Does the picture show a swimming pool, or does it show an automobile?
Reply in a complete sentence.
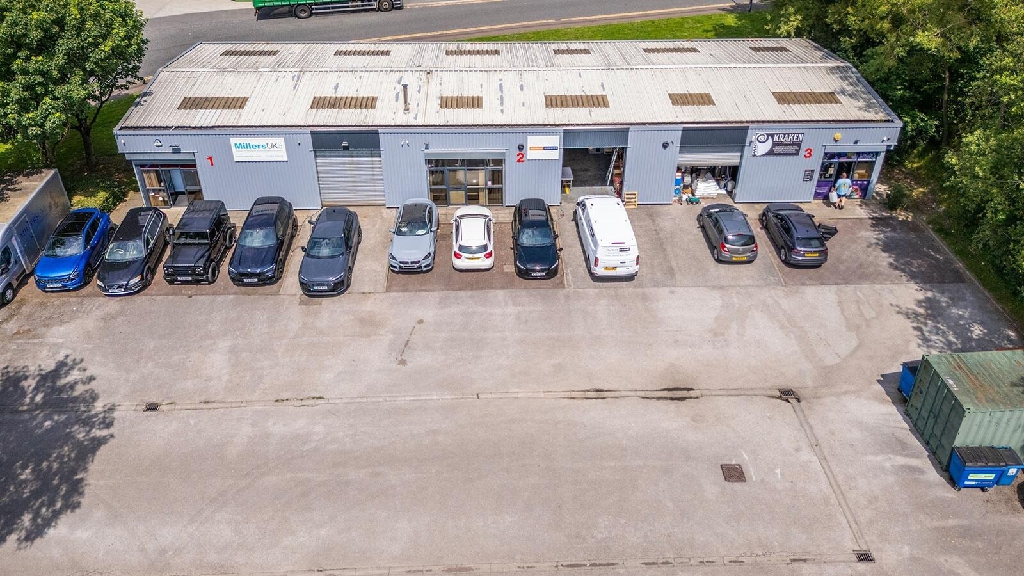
The image shows an automobile.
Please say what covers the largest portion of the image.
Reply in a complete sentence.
What you mostly see from above here is paved ground.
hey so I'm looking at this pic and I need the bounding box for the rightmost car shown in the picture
[759,199,841,263]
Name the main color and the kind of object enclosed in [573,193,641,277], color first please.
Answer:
white van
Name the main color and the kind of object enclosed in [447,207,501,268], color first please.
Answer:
white car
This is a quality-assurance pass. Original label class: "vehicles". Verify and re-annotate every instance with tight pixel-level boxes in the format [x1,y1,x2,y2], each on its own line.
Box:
[0,167,73,298]
[573,193,641,277]
[94,204,174,292]
[383,200,441,273]
[255,0,412,18]
[226,196,298,283]
[447,207,501,268]
[25,205,113,288]
[296,206,362,295]
[759,199,841,263]
[702,202,763,260]
[507,195,565,276]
